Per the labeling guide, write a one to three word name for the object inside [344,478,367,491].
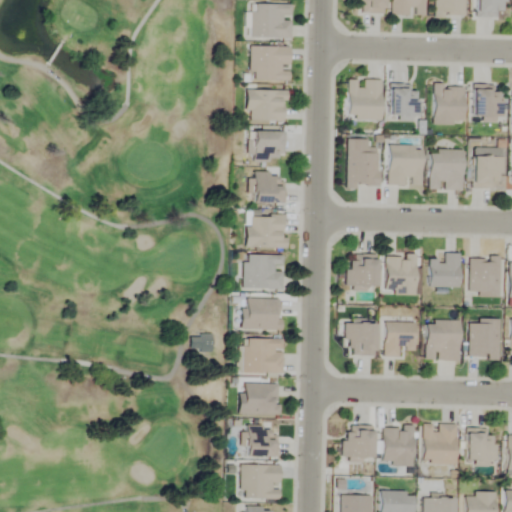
swimming pool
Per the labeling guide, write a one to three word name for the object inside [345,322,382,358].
house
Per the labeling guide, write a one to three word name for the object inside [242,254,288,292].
house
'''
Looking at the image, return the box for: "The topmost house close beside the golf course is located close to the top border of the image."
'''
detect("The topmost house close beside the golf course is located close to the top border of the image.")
[251,1,296,41]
